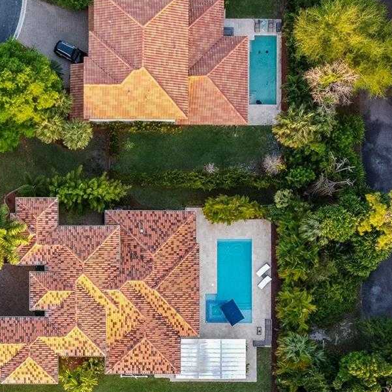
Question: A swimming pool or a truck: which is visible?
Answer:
swimming pool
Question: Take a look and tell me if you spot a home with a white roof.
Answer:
No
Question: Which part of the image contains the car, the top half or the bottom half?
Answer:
top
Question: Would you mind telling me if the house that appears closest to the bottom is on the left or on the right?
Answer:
left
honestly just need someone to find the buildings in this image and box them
[70,0,248,125]
[0,197,201,385]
